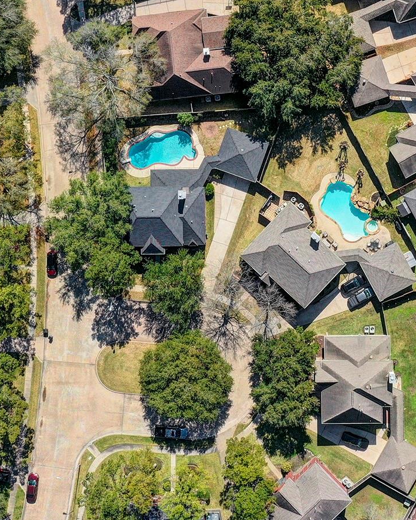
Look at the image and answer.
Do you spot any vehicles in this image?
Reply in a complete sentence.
Yes, I can see a vehicle in this picture.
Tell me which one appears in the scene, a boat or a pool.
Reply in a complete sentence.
The one in the frame is a pool.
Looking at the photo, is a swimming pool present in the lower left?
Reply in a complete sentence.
No, there is no swimming pool in the lower left.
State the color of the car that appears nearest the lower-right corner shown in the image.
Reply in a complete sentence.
The color of the car that appears nearest the lower-right corner is black.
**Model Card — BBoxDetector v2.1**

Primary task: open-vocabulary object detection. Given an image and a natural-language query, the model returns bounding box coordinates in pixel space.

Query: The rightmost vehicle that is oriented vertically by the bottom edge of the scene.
[24,470,40,504]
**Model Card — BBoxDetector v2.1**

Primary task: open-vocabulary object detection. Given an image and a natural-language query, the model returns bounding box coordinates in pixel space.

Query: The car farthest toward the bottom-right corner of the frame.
[338,430,371,450]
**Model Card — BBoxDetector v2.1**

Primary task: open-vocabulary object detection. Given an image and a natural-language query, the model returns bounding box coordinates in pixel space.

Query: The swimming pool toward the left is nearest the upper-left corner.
[127,128,199,171]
